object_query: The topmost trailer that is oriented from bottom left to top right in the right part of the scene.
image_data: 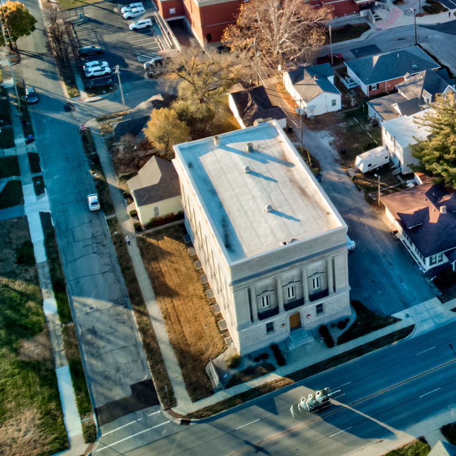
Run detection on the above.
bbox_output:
[353,144,389,180]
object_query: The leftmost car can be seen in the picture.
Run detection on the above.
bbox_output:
[25,86,38,102]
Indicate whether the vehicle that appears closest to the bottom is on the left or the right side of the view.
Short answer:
right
